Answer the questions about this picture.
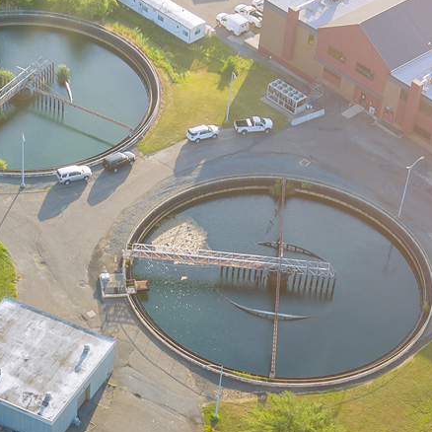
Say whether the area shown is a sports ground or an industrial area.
industrial area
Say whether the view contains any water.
Yes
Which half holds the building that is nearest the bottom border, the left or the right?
left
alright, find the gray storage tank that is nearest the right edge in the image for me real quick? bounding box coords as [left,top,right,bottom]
[117,169,432,392]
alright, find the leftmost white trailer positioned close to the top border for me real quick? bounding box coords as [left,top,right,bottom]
[112,0,204,43]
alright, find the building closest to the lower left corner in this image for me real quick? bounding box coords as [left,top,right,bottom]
[0,291,122,432]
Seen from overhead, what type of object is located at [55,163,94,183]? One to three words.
car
